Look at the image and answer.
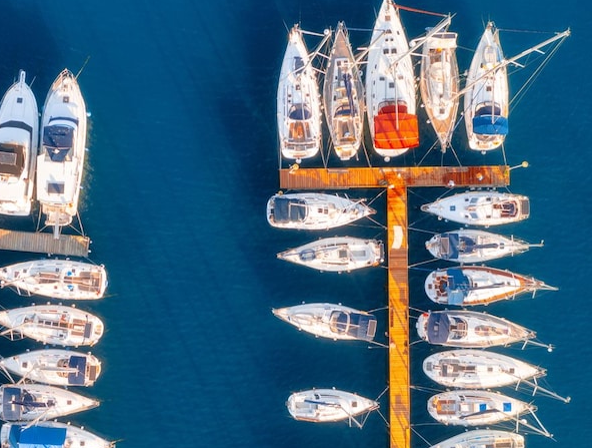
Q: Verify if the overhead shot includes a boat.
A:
Yes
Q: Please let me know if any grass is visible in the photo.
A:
No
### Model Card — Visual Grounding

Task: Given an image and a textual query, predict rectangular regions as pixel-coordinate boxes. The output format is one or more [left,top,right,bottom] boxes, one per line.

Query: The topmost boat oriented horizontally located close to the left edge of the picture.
[0,254,107,302]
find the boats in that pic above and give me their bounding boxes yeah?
[417,26,500,171]
[458,20,571,171]
[0,418,114,448]
[274,232,392,274]
[361,0,452,171]
[269,298,393,346]
[411,264,564,308]
[0,65,40,231]
[287,383,395,429]
[413,425,526,448]
[413,383,557,439]
[33,64,91,238]
[0,254,107,302]
[273,23,327,171]
[410,226,549,266]
[0,380,102,427]
[0,301,104,347]
[410,188,530,229]
[267,191,393,232]
[411,307,555,352]
[323,19,385,171]
[0,345,102,385]
[411,345,574,401]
